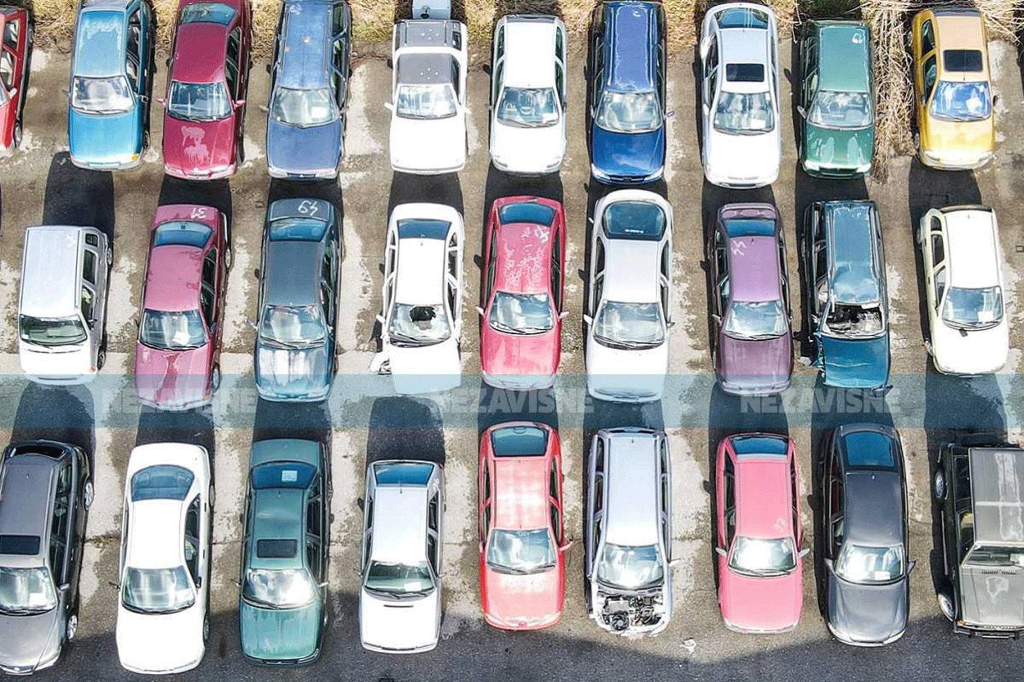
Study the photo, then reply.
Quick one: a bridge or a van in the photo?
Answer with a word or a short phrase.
van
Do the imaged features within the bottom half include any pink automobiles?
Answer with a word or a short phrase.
Yes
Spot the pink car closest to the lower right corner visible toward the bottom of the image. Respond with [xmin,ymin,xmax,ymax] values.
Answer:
[712,434,811,634]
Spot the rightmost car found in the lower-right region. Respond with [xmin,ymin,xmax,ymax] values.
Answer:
[938,445,1024,637]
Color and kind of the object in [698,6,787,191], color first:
white car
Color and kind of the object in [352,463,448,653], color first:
white car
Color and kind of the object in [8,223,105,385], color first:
white van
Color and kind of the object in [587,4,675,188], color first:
blue car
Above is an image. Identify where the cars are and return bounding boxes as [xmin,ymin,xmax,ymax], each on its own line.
[384,18,470,177]
[817,428,923,646]
[352,463,448,653]
[705,205,800,395]
[260,0,347,183]
[248,203,343,403]
[803,203,900,393]
[0,0,29,156]
[374,211,470,395]
[128,209,231,410]
[590,430,684,635]
[798,21,885,181]
[580,196,676,404]
[477,424,571,631]
[107,446,213,674]
[227,442,328,666]
[476,200,568,391]
[60,5,151,173]
[938,445,1024,637]
[0,443,85,674]
[698,6,787,191]
[485,17,572,179]
[156,0,250,184]
[909,9,1002,173]
[712,434,811,634]
[587,4,675,188]
[917,205,1021,379]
